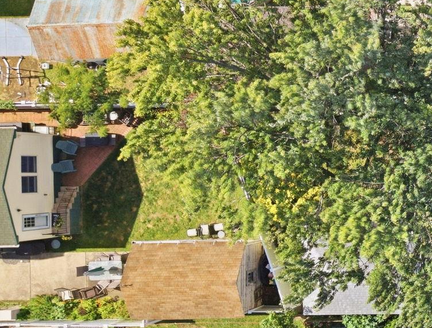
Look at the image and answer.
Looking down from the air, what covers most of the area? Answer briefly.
trees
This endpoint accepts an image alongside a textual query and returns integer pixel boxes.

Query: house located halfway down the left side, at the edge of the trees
[0,127,84,247]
